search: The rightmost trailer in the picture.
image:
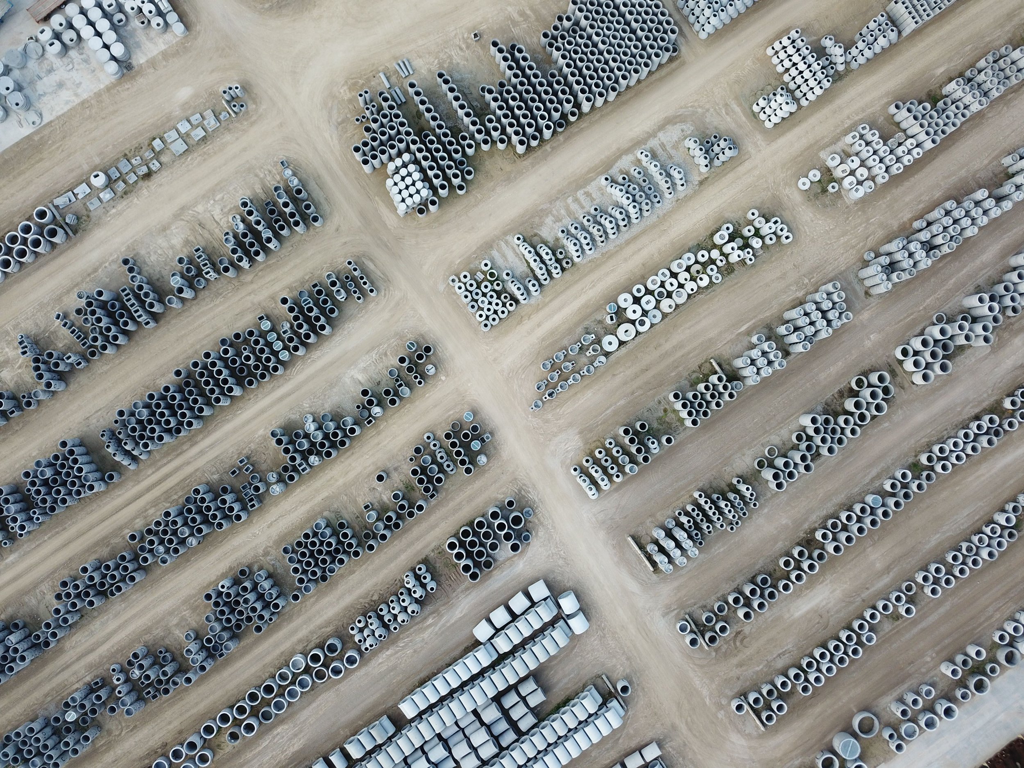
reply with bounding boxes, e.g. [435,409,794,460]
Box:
[26,0,81,27]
